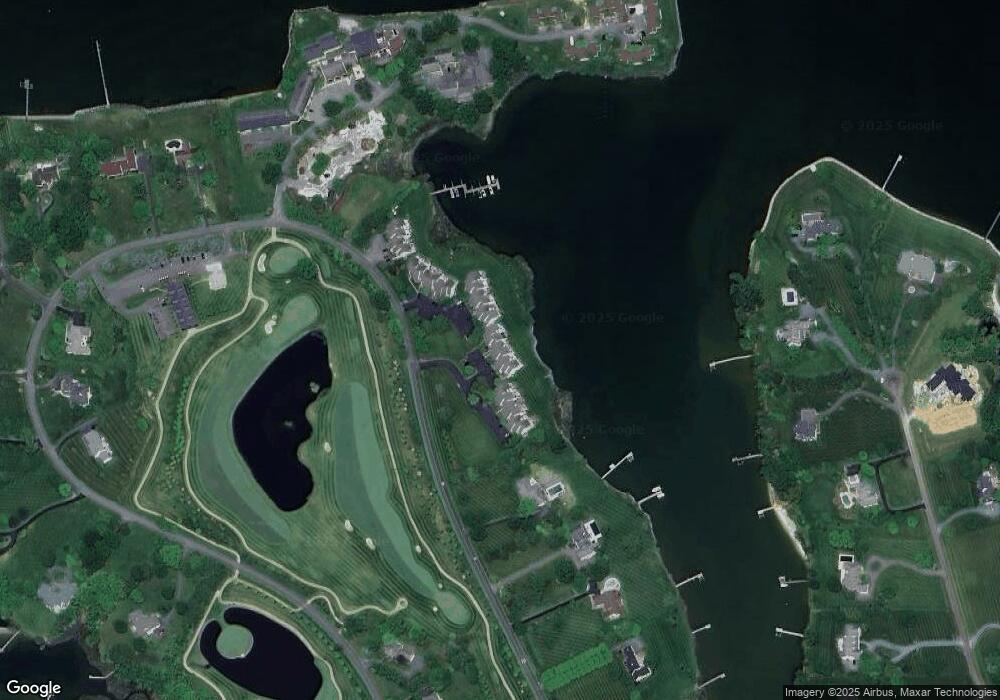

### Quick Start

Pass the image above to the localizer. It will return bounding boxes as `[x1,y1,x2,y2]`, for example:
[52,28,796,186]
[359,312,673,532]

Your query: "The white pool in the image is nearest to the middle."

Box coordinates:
[544,480,564,499]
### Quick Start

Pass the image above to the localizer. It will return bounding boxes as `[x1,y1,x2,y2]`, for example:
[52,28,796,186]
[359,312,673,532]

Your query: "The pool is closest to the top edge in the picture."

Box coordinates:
[165,141,181,154]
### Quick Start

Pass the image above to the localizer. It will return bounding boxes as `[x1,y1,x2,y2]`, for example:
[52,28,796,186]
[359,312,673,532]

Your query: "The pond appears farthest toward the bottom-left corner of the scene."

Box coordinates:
[200,606,322,700]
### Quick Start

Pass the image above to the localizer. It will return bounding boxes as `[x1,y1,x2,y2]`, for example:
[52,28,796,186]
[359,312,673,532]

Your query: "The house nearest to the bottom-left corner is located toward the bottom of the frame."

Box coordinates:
[37,580,76,611]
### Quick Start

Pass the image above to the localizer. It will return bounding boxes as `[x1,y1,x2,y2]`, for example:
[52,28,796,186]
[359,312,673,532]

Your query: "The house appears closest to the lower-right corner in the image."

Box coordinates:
[839,630,862,660]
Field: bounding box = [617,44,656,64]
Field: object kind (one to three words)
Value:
house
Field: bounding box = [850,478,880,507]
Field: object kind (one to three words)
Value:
house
